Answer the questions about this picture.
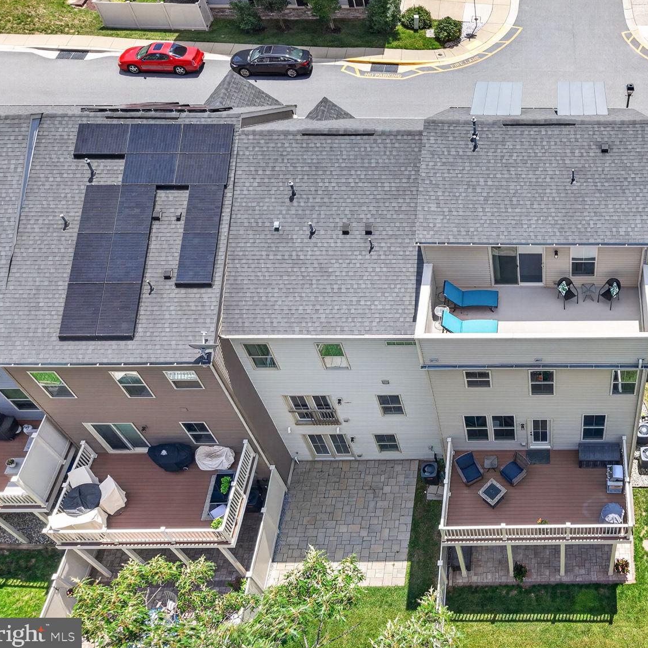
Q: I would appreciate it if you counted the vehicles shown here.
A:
2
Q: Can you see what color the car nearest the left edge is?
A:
red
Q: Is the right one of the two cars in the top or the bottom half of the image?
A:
top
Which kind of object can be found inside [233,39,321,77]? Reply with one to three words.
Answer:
car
